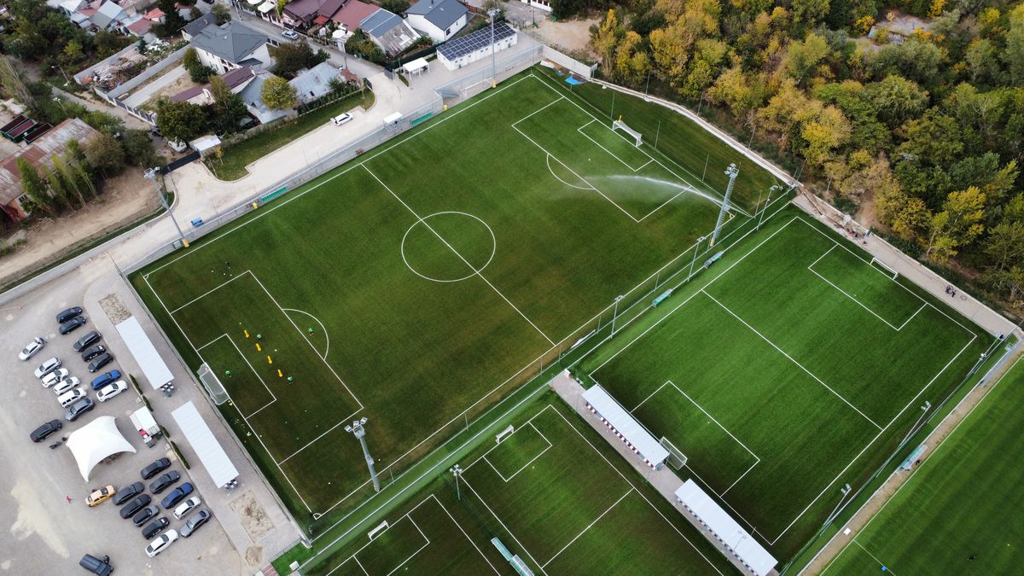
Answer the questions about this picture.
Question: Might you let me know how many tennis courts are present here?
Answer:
0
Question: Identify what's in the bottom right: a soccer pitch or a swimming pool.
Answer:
soccer pitch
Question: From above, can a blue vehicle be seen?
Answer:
Yes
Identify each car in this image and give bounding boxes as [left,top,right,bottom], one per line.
[80,344,107,362]
[139,516,173,543]
[18,337,47,360]
[332,114,354,126]
[40,369,68,388]
[96,382,128,402]
[57,389,88,408]
[33,357,61,377]
[30,421,63,443]
[72,331,102,352]
[83,486,116,508]
[118,493,152,520]
[57,317,86,334]
[170,496,203,522]
[160,483,194,509]
[130,504,162,528]
[139,457,172,481]
[91,372,119,390]
[179,510,211,538]
[52,377,81,395]
[144,529,179,558]
[147,470,181,495]
[64,399,95,421]
[55,307,81,323]
[111,480,145,507]
[87,353,114,372]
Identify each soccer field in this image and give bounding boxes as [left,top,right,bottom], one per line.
[821,353,1024,576]
[590,216,976,545]
[461,405,722,576]
[144,74,734,519]
[327,494,500,576]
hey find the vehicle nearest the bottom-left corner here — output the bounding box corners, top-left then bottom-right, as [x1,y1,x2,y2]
[76,553,113,576]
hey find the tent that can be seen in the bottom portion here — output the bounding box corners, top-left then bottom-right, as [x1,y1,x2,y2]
[66,417,137,483]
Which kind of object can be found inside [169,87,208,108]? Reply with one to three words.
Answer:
shed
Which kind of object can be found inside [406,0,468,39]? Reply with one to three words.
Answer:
house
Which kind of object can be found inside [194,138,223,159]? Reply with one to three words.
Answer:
shed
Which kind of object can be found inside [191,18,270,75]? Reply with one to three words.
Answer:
house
